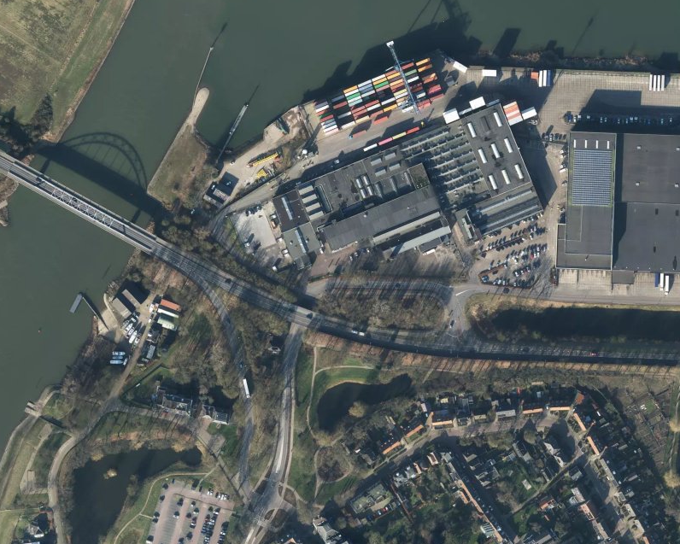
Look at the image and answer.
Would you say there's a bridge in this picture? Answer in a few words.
Yes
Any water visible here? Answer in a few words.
Yes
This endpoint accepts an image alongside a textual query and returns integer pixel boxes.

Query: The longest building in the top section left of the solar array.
[272,102,543,268]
